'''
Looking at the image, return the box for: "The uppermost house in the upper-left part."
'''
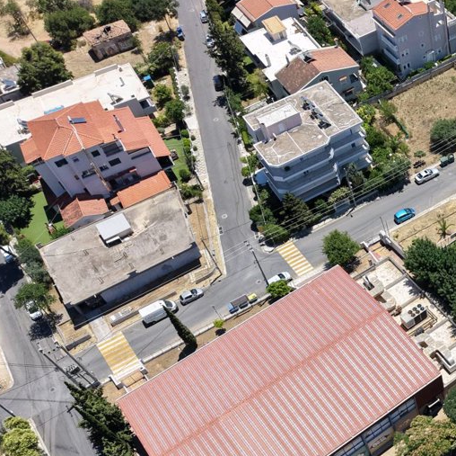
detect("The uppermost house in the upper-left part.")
[83,21,132,57]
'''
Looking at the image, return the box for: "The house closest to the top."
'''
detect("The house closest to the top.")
[227,0,305,33]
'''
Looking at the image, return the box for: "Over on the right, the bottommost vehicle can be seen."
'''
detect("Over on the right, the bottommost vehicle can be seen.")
[264,267,291,284]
